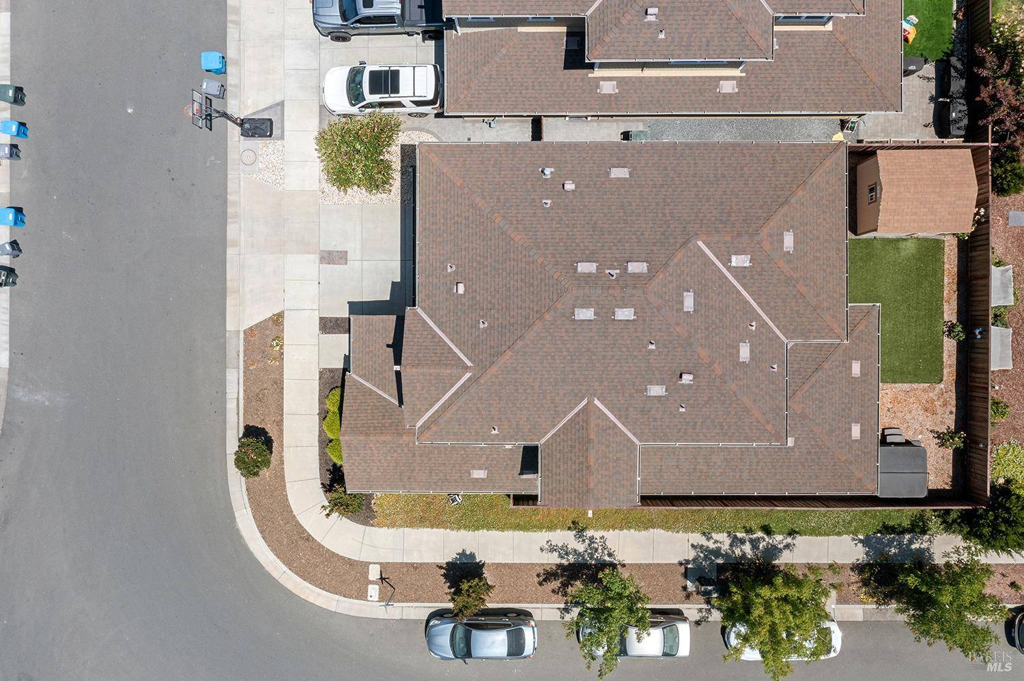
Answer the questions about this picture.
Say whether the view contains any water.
No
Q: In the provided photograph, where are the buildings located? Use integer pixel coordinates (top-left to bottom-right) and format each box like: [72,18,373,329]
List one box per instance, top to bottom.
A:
[444,0,903,121]
[343,140,880,519]
[862,149,978,235]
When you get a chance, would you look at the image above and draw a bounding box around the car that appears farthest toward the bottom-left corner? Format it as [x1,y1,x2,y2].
[426,614,538,668]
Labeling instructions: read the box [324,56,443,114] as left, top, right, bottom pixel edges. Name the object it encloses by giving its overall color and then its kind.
white car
